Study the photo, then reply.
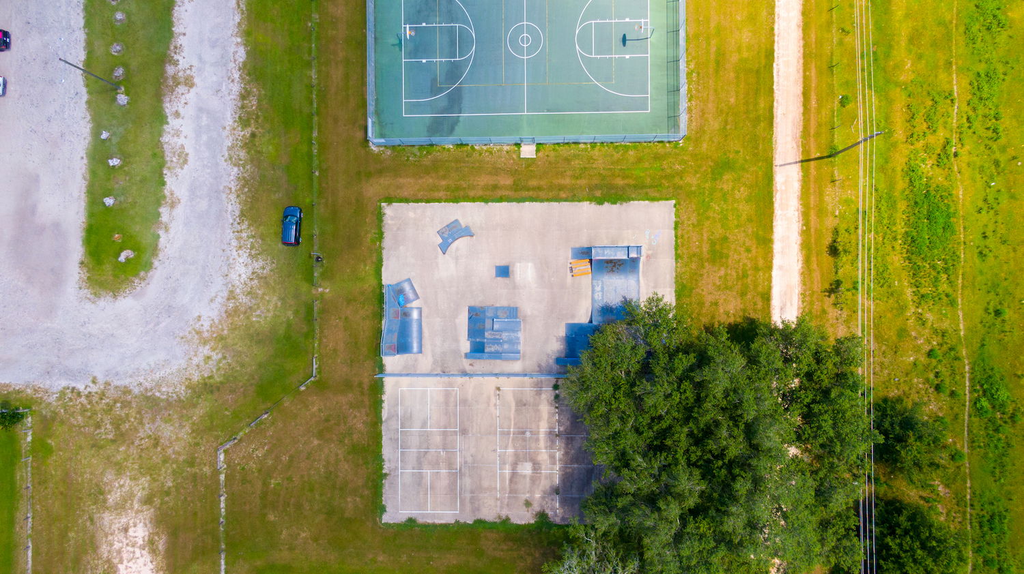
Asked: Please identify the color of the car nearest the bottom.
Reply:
blue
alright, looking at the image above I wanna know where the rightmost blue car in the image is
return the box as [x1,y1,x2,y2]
[280,205,303,246]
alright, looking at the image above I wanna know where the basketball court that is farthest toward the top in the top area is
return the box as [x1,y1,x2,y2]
[373,0,680,145]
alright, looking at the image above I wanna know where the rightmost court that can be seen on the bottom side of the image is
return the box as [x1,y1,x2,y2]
[461,387,601,516]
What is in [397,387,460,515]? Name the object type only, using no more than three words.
sports court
